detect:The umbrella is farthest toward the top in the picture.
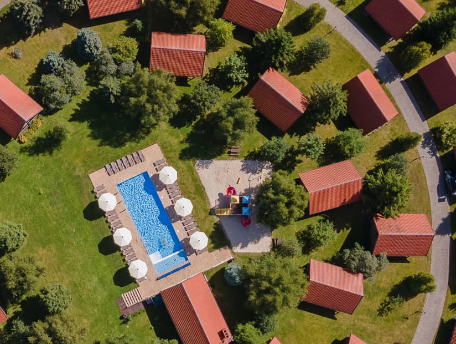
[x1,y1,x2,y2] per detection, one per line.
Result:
[159,165,178,185]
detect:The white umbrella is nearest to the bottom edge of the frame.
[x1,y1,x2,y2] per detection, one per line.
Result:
[129,260,147,279]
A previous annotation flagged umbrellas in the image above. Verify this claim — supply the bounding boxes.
[98,192,116,211]
[175,197,192,216]
[113,228,132,246]
[129,260,147,279]
[159,165,178,185]
[189,231,208,250]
